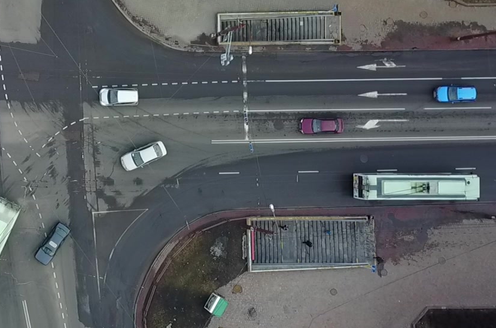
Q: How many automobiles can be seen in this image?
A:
5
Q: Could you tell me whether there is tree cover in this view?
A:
No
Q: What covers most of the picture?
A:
paved ground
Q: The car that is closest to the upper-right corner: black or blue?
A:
blue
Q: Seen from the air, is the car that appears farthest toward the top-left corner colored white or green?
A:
white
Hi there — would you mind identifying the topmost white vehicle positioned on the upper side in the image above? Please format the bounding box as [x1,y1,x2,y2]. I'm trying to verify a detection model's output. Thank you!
[99,85,138,107]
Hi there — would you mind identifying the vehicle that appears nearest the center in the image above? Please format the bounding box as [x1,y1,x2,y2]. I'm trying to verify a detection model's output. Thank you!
[298,115,343,136]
